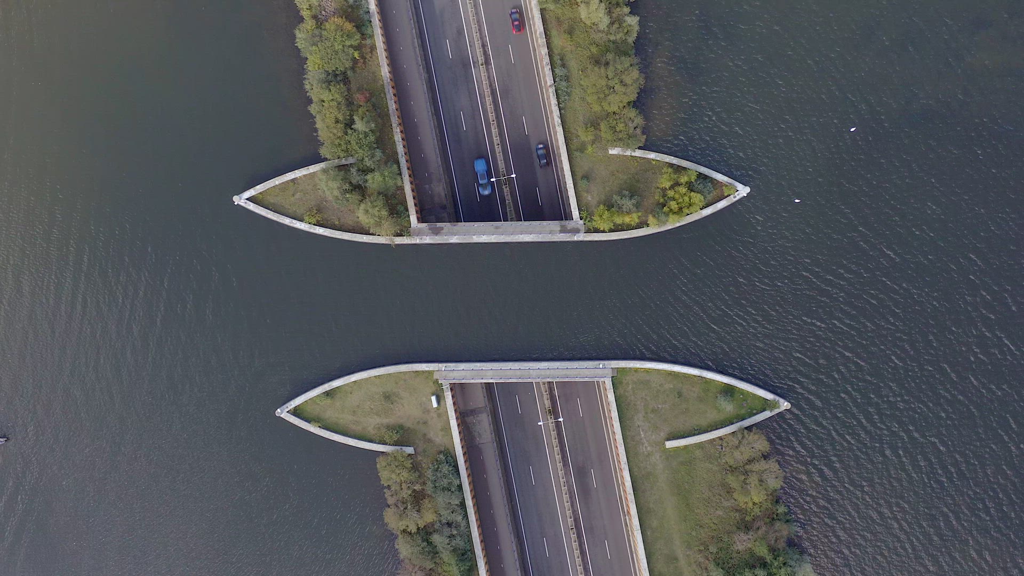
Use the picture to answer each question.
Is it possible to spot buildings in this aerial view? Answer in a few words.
No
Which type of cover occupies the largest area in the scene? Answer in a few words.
water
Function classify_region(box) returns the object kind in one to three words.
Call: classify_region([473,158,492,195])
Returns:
vehicle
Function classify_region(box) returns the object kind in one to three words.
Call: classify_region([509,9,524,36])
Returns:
car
